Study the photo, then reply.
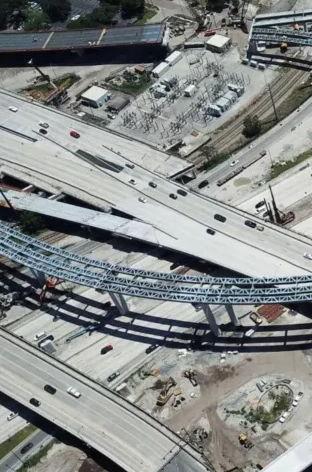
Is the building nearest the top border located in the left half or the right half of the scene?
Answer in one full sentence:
The building nearest the top border appears in the right half of the scene.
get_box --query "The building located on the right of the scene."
[205,33,233,54]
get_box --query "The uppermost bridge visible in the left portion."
[0,23,175,61]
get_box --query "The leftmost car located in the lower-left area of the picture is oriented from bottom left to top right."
[2,409,20,422]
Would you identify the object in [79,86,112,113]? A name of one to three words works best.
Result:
building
